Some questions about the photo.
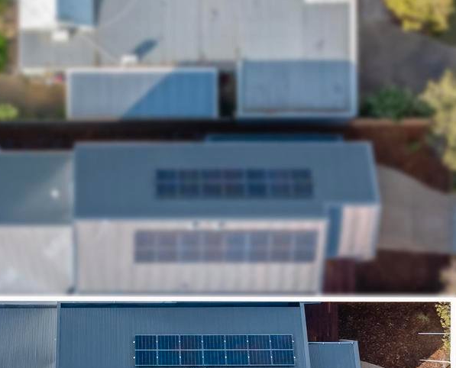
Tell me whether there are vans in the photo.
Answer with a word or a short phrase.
No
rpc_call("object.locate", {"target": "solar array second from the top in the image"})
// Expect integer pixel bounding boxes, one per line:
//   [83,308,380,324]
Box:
[131,234,316,266]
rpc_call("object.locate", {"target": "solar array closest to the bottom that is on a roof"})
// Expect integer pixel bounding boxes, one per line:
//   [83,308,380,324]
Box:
[133,335,295,364]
